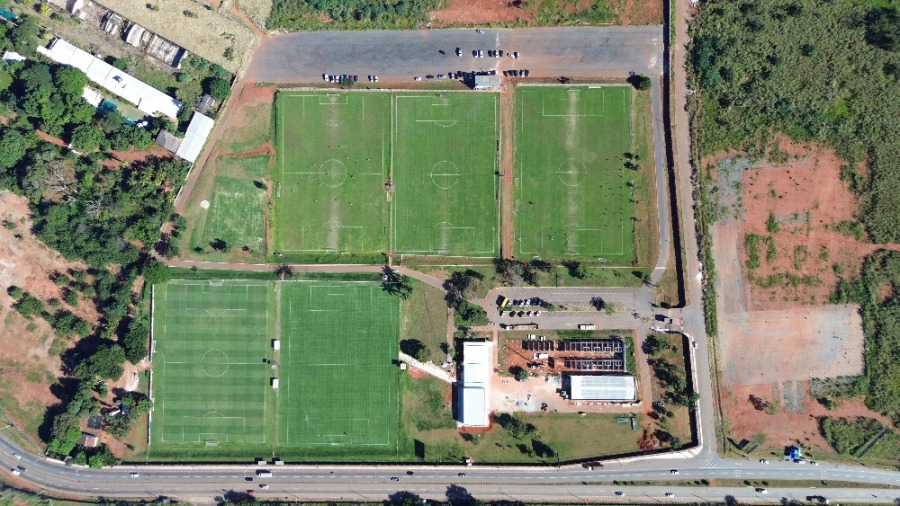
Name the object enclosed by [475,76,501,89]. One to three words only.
building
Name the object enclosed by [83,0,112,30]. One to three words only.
shed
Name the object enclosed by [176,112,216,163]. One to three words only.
shed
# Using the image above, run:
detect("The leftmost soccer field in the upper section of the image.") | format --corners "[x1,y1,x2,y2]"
[272,91,388,254]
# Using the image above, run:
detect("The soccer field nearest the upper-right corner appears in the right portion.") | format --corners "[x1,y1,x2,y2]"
[514,85,634,259]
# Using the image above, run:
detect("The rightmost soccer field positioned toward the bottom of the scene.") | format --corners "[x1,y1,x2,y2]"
[279,282,398,449]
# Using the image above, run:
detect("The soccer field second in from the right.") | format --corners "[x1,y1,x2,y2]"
[390,92,499,256]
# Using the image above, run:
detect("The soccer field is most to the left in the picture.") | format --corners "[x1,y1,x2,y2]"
[150,281,275,448]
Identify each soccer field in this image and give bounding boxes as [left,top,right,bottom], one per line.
[390,92,499,256]
[150,281,275,448]
[279,282,398,449]
[272,91,388,254]
[514,85,634,259]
